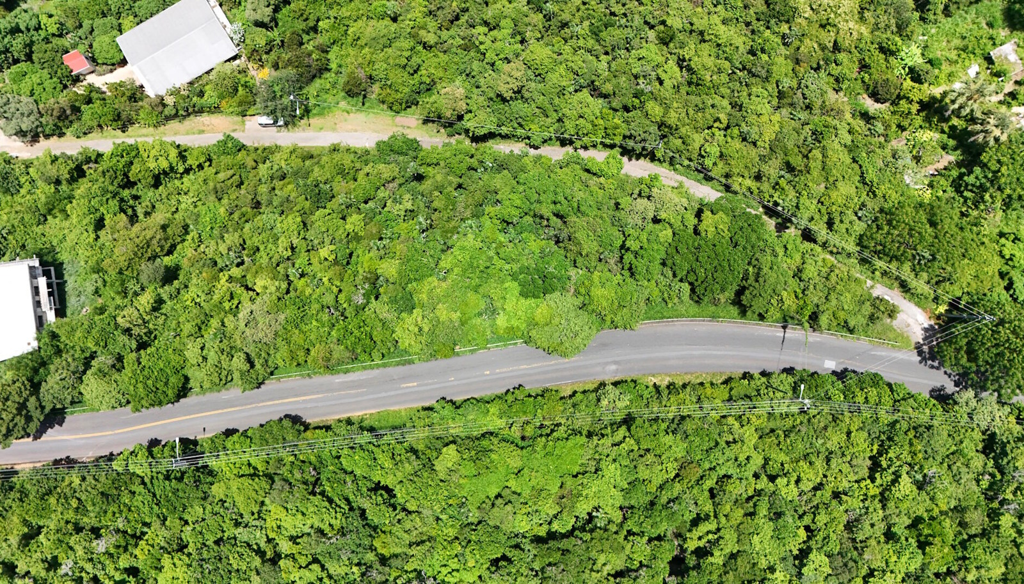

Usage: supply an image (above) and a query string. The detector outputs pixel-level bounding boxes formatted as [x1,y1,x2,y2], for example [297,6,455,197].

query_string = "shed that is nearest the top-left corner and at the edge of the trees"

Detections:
[62,50,94,76]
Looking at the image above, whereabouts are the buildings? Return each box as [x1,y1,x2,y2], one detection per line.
[0,254,73,363]
[62,50,94,76]
[116,0,243,99]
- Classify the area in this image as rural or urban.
rural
